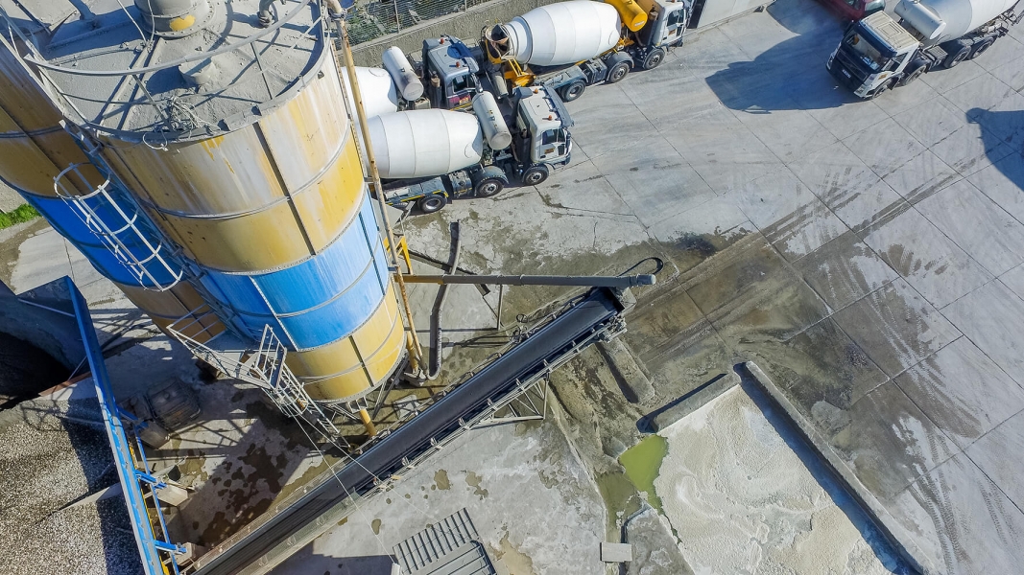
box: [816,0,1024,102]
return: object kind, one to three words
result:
truck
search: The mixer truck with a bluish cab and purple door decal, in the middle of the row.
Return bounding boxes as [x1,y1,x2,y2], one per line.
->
[334,34,481,124]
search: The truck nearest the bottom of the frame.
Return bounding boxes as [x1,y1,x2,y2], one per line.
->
[354,83,577,220]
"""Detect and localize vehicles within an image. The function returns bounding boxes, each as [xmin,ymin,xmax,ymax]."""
[334,34,481,124]
[476,0,694,104]
[354,83,577,220]
[816,0,1024,102]
[829,0,891,22]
